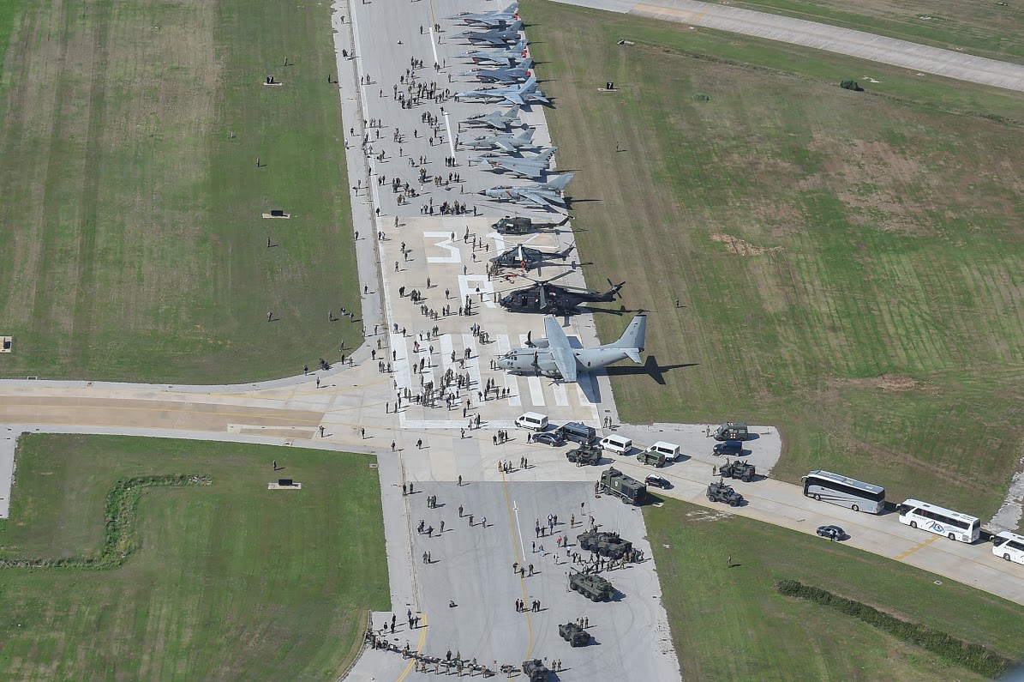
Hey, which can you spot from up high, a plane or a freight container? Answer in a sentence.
The image shows a plane.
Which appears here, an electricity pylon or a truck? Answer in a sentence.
The one in the frame is a truck.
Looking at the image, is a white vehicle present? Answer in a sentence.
Yes, the photo shows a white vehicle.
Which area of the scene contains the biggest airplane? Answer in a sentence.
The biggest airplane sits in the center section of the image.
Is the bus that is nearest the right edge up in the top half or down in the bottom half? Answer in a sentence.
The bus that is nearest the right edge is in the bottom half of the image.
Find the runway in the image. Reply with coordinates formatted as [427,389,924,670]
[353,0,665,682]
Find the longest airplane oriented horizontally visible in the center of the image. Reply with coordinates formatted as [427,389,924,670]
[497,314,646,381]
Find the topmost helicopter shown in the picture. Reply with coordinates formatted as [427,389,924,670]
[478,207,575,235]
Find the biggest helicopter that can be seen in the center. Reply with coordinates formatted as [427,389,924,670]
[488,270,626,315]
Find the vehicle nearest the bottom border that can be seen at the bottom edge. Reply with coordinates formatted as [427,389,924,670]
[524,655,551,682]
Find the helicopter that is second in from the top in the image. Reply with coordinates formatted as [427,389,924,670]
[485,235,578,271]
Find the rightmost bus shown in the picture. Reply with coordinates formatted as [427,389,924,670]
[987,527,1024,563]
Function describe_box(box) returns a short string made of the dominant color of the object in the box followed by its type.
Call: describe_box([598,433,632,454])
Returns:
white vehicle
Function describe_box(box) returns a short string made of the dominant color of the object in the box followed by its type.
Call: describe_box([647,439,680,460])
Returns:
white vehicle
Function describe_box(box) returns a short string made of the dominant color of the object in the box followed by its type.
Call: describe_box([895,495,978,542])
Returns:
white bus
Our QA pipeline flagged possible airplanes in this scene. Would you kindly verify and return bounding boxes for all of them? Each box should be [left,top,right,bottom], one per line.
[469,145,555,176]
[455,74,549,105]
[456,102,519,129]
[447,1,517,27]
[497,314,646,381]
[459,57,531,84]
[451,19,522,46]
[450,38,527,66]
[457,125,532,151]
[475,169,575,204]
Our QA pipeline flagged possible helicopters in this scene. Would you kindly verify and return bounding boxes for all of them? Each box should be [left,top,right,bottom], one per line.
[478,207,575,235]
[485,235,578,271]
[488,270,626,315]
